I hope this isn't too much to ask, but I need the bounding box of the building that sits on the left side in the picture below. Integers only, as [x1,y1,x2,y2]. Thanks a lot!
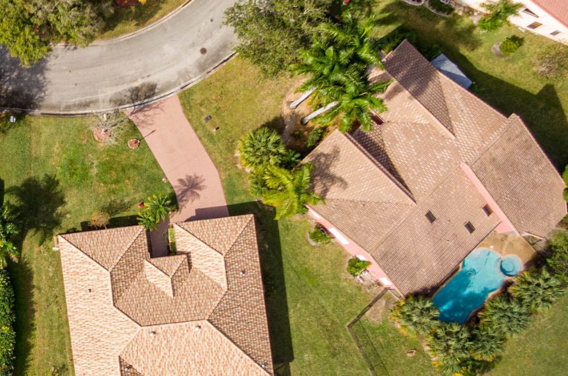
[57,214,274,376]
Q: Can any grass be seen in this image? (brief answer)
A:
Yes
